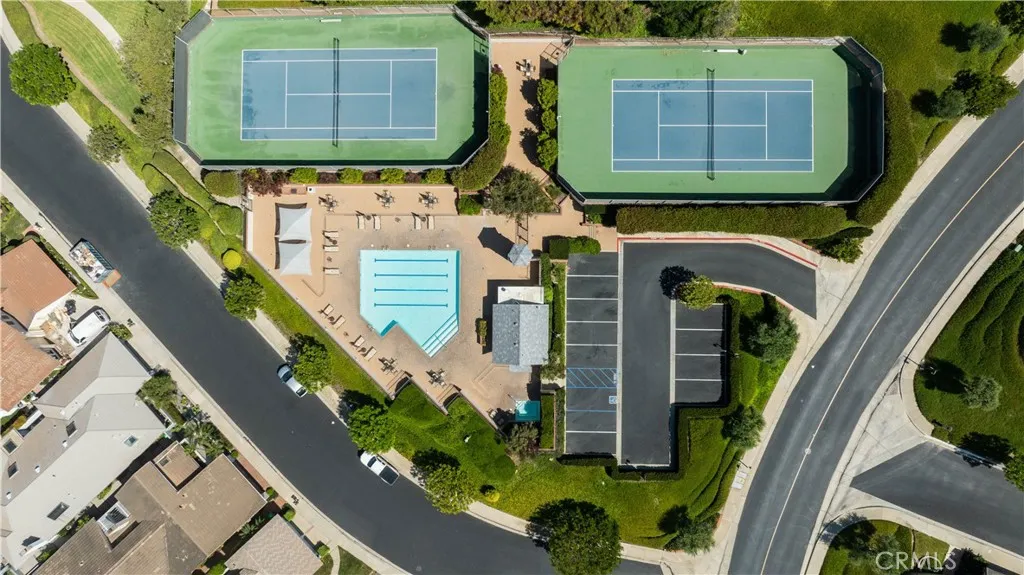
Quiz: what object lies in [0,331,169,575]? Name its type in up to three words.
house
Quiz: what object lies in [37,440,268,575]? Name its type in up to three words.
house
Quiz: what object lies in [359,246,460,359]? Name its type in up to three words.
swimming pool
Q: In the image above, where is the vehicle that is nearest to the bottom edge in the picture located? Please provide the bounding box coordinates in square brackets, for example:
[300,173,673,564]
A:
[359,452,401,486]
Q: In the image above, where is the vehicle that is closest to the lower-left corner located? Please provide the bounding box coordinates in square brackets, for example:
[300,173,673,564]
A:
[70,311,110,344]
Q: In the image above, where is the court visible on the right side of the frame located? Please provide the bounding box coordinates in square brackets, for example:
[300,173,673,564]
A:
[556,46,866,204]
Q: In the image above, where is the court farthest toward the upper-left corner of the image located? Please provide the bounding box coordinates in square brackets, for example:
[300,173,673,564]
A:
[189,15,488,170]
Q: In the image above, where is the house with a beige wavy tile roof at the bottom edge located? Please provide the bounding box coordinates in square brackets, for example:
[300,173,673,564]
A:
[225,514,323,575]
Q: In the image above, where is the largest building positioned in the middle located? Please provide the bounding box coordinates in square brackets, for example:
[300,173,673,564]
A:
[493,286,548,373]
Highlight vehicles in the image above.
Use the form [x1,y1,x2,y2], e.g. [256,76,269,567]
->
[359,452,401,486]
[70,311,110,344]
[276,364,307,399]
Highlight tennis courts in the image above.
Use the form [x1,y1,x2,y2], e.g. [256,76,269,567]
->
[556,46,866,204]
[189,15,488,170]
